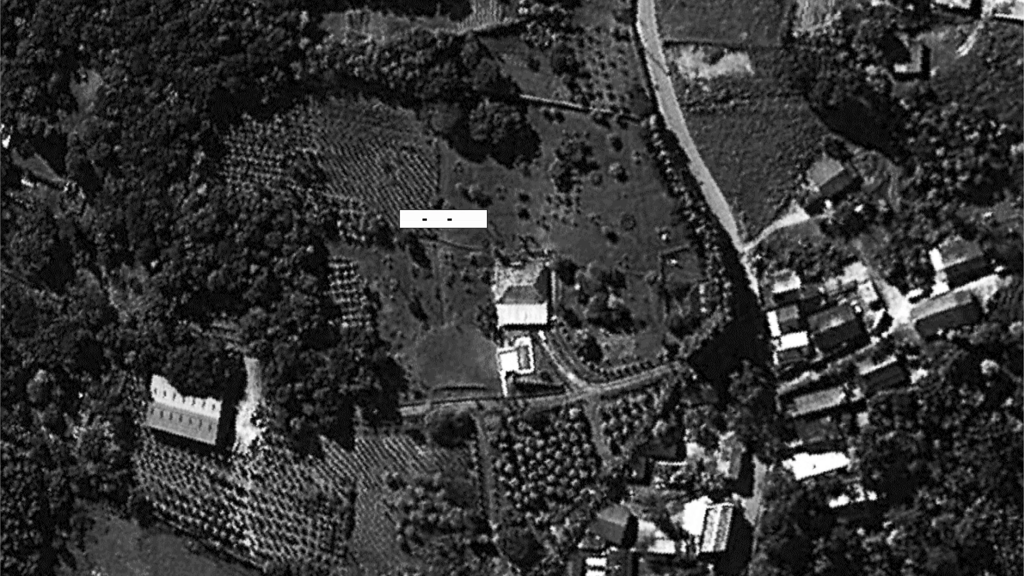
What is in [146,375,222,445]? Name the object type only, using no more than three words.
barn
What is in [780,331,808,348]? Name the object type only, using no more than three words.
building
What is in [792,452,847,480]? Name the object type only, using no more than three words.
building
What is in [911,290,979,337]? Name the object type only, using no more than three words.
house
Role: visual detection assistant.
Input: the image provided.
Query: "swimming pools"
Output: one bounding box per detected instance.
[516,337,534,374]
